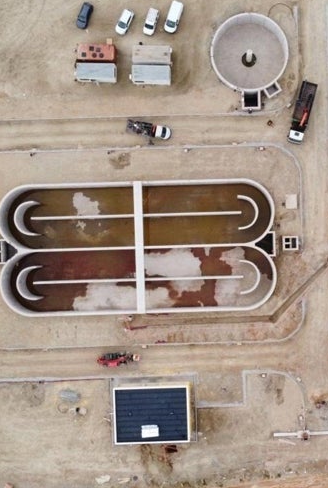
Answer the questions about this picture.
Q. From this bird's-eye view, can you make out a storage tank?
Yes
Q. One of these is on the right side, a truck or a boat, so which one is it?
truck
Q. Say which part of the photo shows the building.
bottom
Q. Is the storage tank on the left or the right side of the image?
right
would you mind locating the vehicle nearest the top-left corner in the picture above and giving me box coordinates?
[77,1,94,31]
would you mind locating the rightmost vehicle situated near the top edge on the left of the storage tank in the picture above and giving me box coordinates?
[164,0,184,35]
